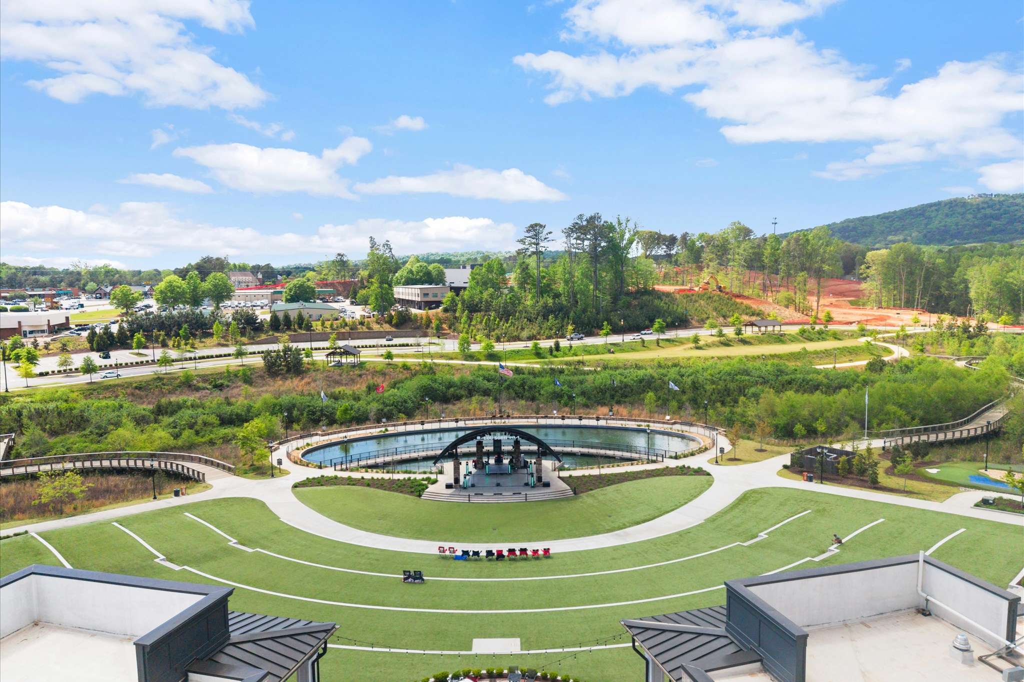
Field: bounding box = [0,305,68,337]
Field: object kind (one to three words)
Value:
building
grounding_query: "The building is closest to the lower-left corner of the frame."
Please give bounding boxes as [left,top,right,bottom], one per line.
[0,565,269,682]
